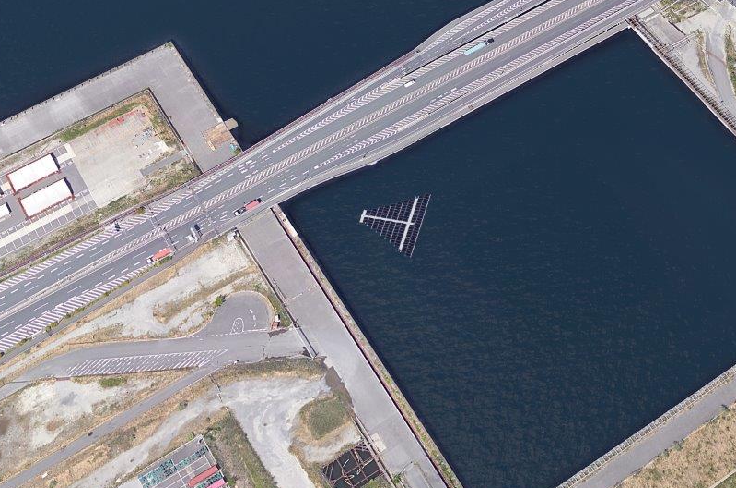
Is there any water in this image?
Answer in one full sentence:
Yes, water shows up in the scene.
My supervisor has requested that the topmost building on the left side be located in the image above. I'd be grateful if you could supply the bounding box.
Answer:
[7,153,63,197]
